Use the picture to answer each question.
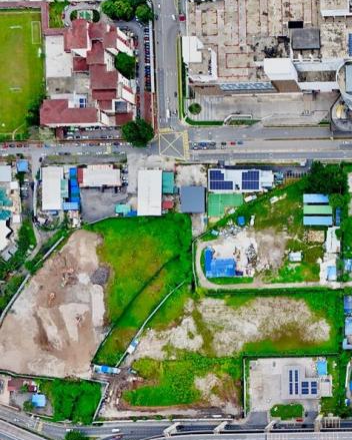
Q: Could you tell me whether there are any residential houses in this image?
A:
Yes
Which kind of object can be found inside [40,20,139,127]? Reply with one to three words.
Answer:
building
